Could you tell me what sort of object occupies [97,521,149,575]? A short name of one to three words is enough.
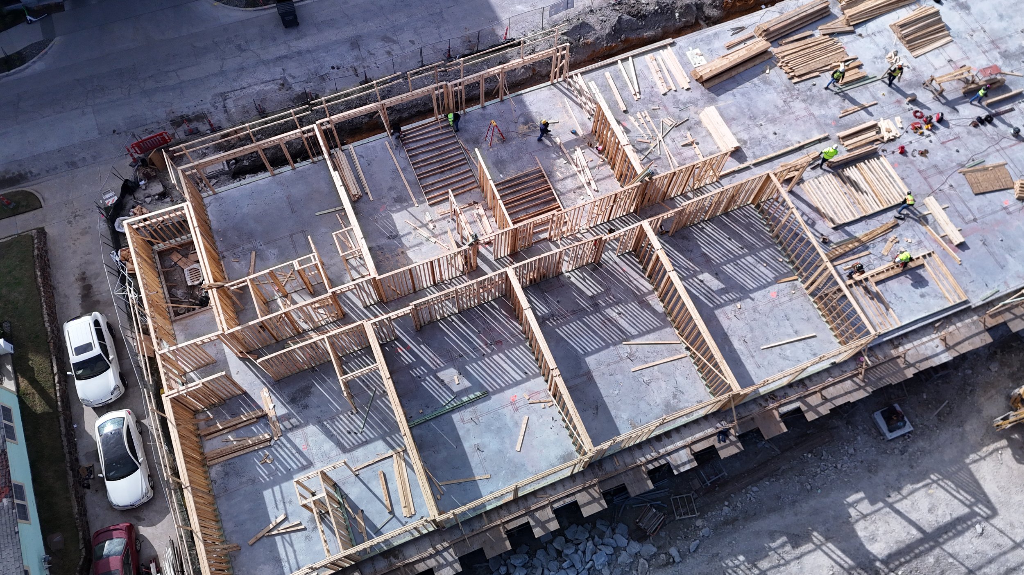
car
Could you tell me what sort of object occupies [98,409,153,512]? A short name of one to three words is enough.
car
